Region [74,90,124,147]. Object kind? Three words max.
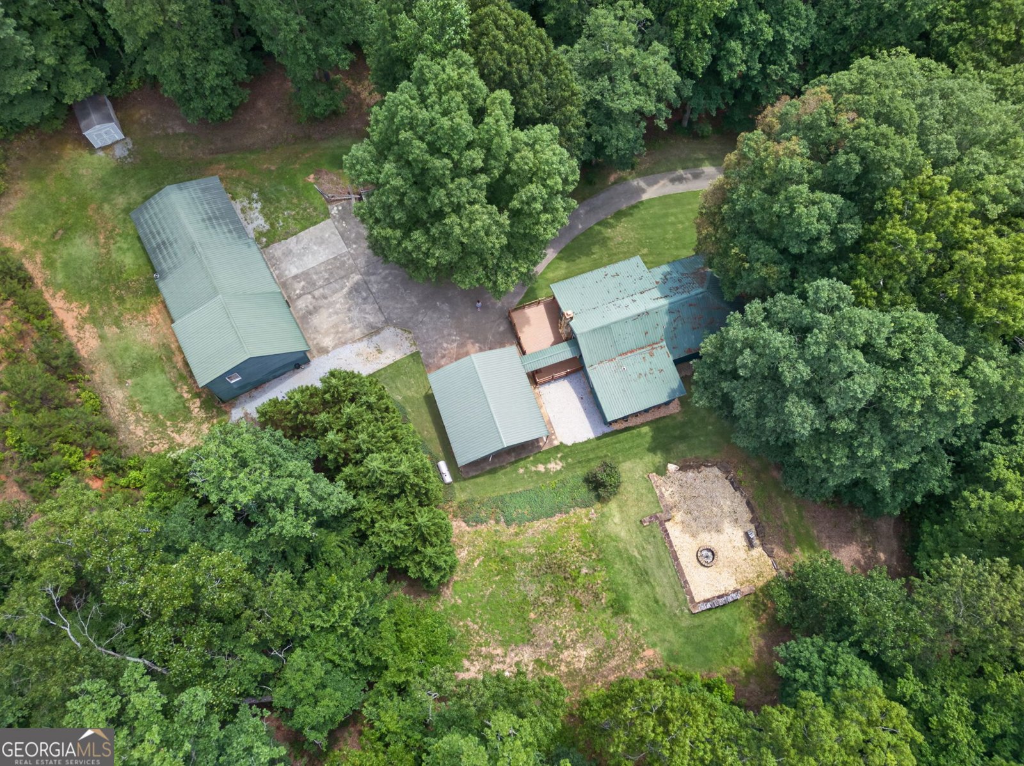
shed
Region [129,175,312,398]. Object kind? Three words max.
barn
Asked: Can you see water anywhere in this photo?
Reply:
No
